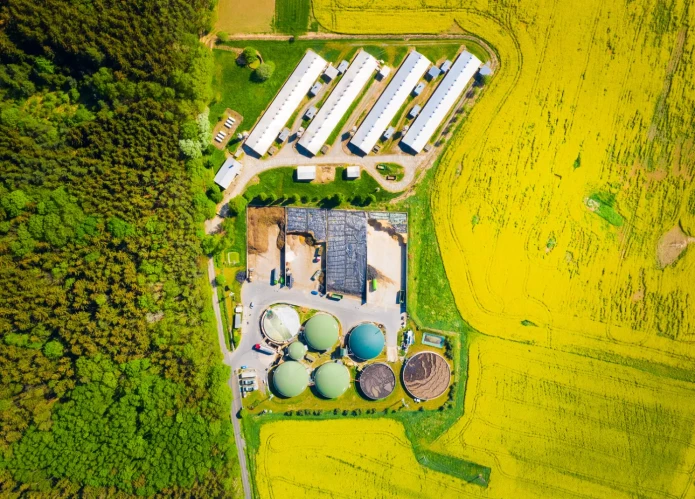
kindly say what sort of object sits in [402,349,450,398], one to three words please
storage tank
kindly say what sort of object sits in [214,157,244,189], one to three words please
barn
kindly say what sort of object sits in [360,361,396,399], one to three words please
storage tank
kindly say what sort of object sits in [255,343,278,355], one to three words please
vehicle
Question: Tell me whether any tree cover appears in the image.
Yes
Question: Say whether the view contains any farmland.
Yes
